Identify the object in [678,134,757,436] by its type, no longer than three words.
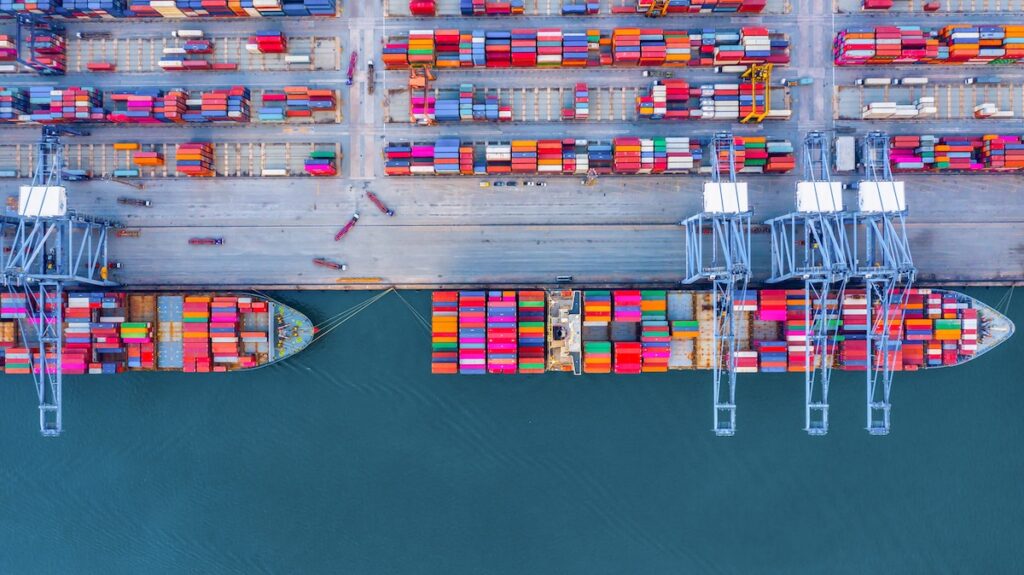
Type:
container crane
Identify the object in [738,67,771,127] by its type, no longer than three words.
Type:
container crane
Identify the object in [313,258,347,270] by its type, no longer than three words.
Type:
vehicle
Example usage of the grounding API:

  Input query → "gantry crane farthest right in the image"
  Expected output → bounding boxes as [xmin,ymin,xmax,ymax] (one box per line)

[814,134,923,436]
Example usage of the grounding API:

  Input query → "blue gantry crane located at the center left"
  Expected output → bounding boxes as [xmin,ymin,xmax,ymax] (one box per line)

[0,134,125,436]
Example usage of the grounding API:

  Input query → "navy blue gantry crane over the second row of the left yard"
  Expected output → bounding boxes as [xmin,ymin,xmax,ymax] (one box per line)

[17,13,64,74]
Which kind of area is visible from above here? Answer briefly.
port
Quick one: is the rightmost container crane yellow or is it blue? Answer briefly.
blue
